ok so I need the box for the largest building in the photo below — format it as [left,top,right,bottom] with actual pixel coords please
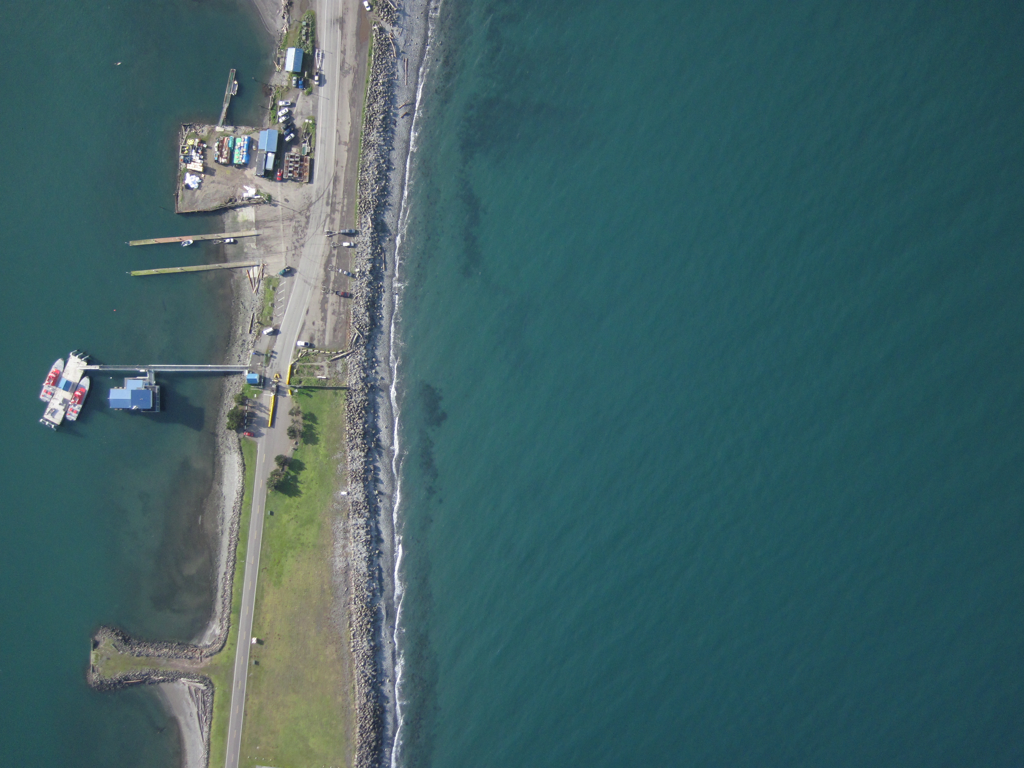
[108,378,160,412]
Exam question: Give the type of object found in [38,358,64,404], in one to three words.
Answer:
boat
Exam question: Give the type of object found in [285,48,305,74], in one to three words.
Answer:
shed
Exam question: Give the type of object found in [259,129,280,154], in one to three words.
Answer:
building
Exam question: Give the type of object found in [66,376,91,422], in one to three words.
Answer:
boat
